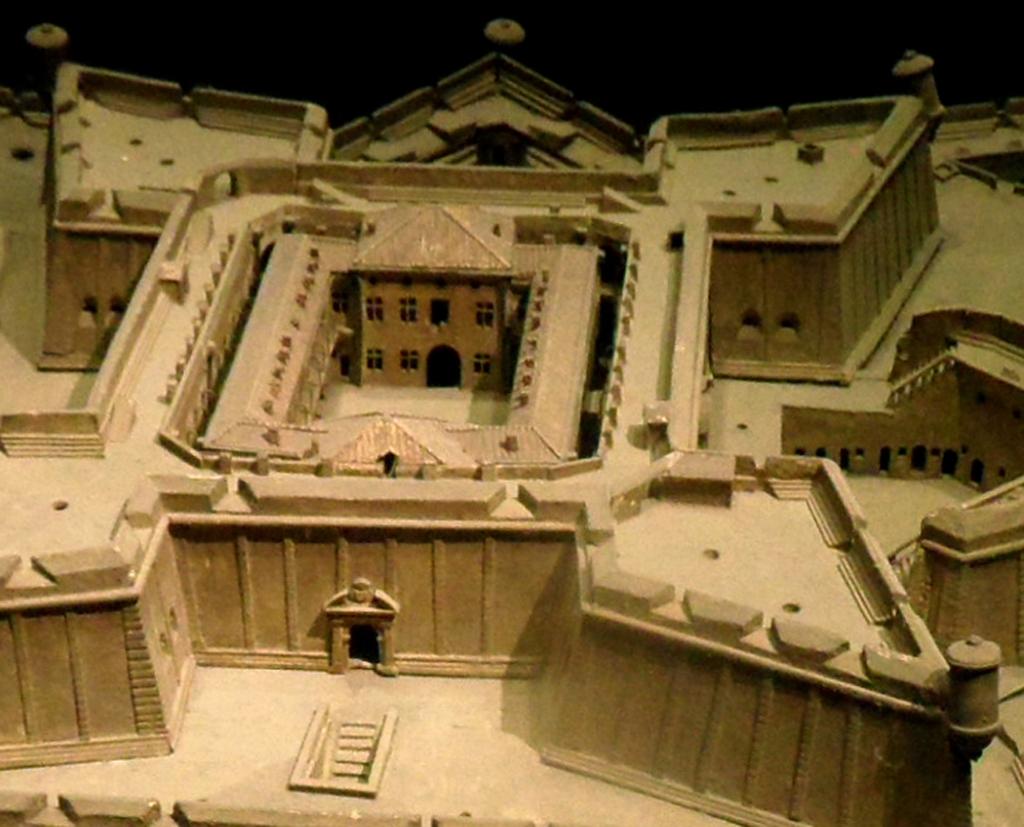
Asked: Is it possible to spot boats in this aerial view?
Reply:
No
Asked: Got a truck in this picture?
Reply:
No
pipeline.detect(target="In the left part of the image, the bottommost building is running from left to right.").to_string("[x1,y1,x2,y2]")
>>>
[203,414,564,468]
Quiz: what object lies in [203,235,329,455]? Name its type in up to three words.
building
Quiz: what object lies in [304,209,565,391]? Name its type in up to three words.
building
